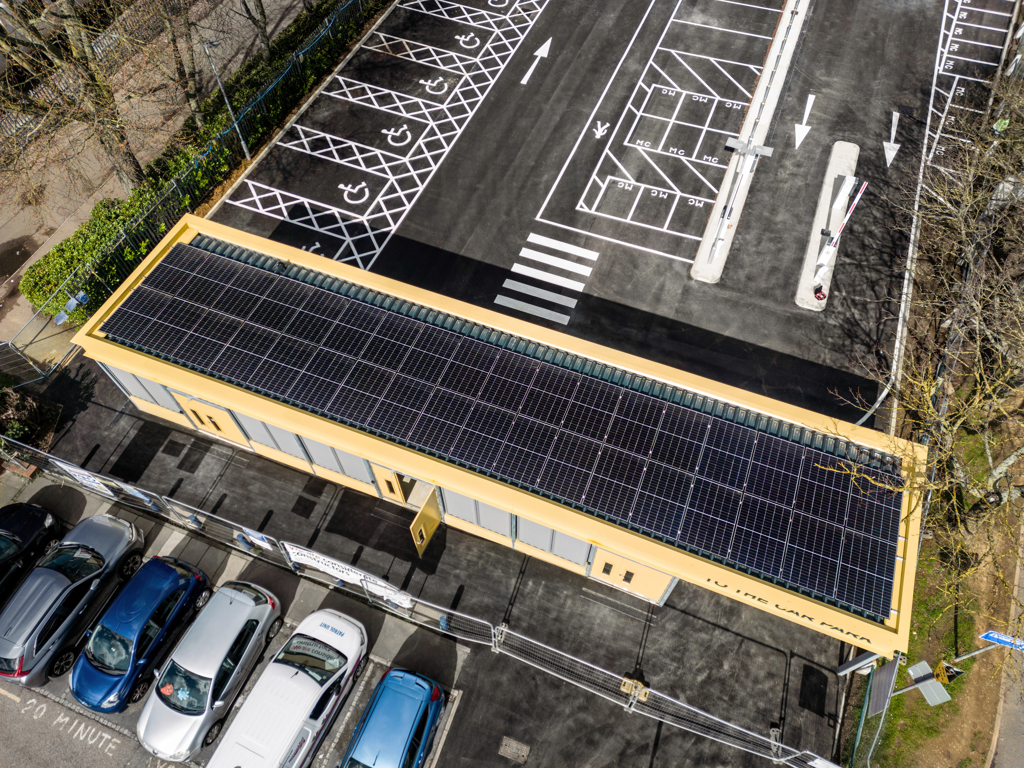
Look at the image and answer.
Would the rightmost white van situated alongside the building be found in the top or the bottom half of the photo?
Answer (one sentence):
It is in the bottom half that the rightmost white van situated alongside the building appears.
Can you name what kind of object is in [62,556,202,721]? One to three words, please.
car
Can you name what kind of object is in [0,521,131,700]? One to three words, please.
car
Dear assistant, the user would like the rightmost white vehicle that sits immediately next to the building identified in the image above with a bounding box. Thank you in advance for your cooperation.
[214,609,365,768]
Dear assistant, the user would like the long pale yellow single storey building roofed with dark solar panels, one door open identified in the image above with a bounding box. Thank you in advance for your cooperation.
[71,213,927,676]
